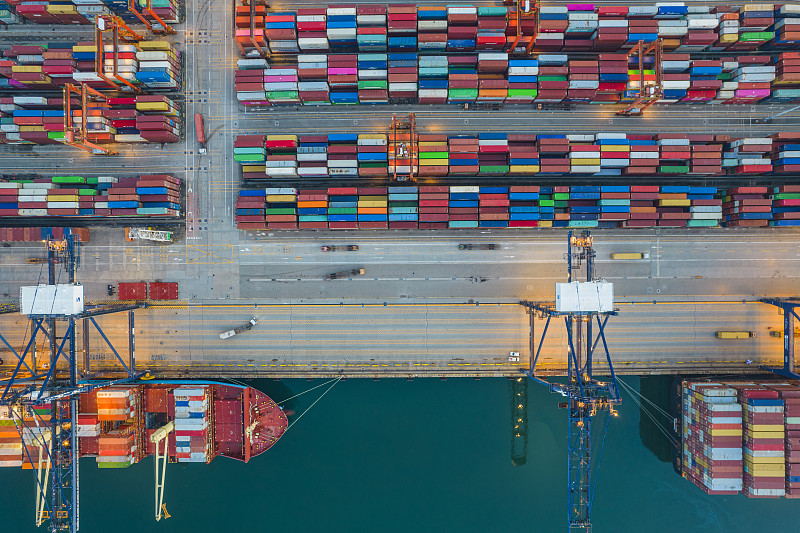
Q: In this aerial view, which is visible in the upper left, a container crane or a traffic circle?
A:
container crane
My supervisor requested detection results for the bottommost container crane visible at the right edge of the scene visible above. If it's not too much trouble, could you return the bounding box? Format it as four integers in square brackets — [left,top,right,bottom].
[756,301,800,383]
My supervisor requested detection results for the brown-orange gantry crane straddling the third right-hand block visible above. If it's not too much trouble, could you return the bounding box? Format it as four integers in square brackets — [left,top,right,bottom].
[388,113,418,185]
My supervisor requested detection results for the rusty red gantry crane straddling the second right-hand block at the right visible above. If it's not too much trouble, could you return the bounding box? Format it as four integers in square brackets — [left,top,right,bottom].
[617,37,661,110]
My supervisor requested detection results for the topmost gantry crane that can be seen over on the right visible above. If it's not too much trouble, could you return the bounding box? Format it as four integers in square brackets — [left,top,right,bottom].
[505,0,541,56]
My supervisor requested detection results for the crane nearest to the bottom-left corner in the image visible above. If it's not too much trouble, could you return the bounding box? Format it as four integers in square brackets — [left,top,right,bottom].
[25,421,69,527]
